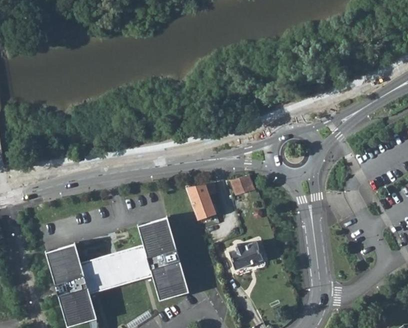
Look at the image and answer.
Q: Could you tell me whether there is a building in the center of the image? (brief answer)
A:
Yes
